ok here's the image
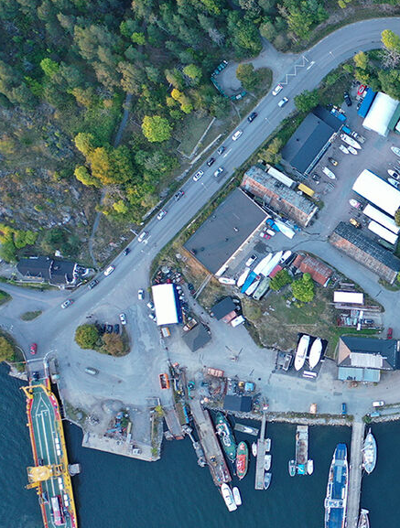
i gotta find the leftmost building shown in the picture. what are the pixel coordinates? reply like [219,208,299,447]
[16,256,59,295]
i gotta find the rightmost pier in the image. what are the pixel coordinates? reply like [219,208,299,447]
[345,419,365,528]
